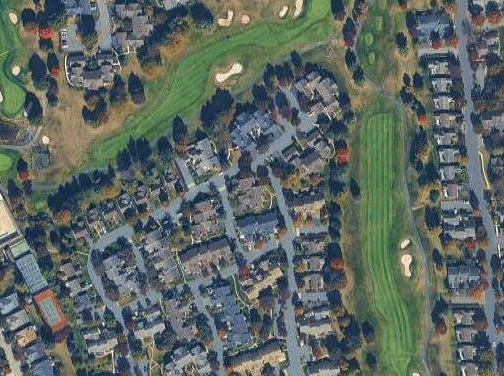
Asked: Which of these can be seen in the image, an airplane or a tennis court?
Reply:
tennis court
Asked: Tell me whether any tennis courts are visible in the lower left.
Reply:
Yes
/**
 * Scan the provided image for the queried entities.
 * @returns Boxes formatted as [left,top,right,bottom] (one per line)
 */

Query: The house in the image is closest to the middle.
[233,177,272,215]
